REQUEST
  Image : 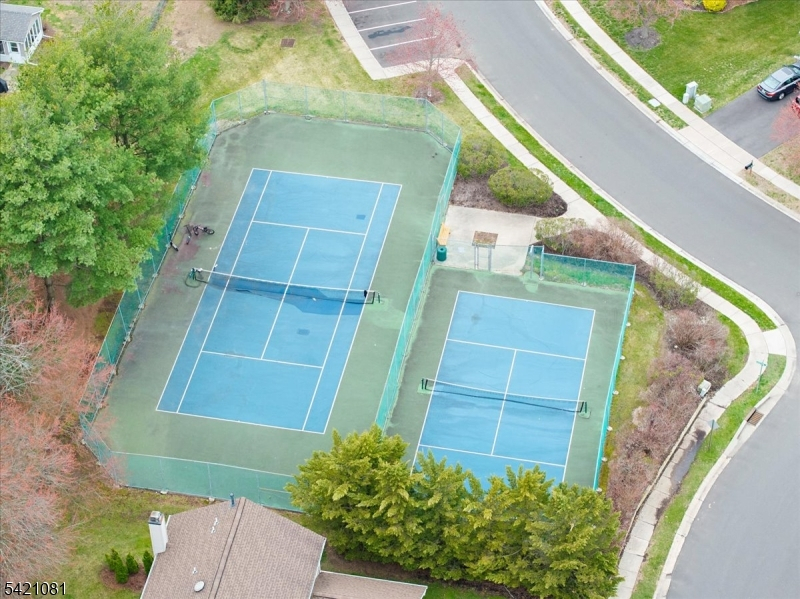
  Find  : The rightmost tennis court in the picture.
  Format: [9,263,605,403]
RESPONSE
[380,265,632,543]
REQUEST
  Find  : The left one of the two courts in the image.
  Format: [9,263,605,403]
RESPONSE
[81,112,455,512]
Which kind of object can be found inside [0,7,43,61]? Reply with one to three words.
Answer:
house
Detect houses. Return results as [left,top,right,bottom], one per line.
[138,496,427,599]
[0,7,43,61]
